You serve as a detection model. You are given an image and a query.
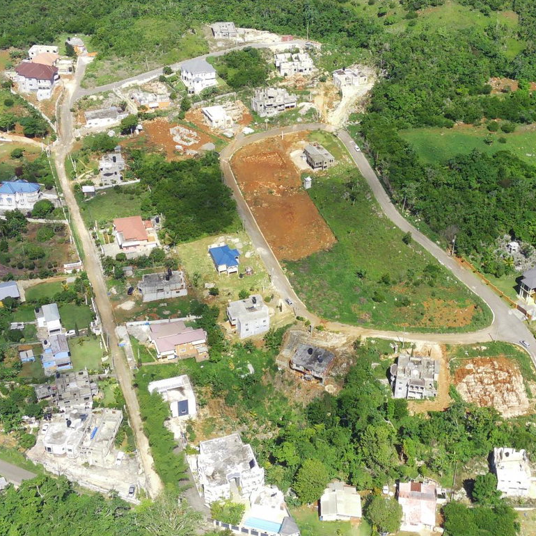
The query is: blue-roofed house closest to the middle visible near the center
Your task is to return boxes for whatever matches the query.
[212,247,239,274]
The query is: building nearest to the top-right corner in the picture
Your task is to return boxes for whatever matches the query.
[334,68,366,84]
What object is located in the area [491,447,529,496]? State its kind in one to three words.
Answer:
house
